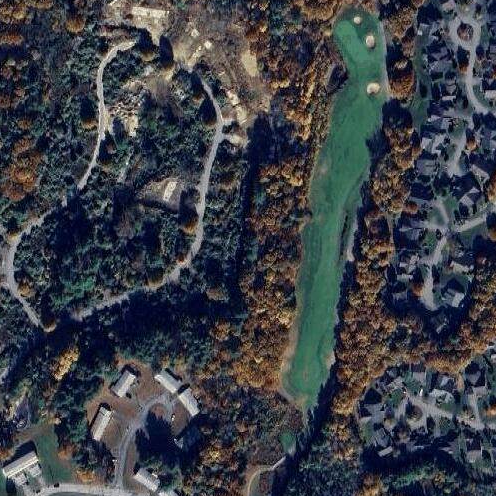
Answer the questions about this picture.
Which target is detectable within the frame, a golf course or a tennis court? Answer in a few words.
golf course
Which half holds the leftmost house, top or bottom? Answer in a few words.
bottom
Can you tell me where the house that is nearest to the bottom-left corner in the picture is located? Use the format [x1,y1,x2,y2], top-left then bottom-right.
[1,450,42,484]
